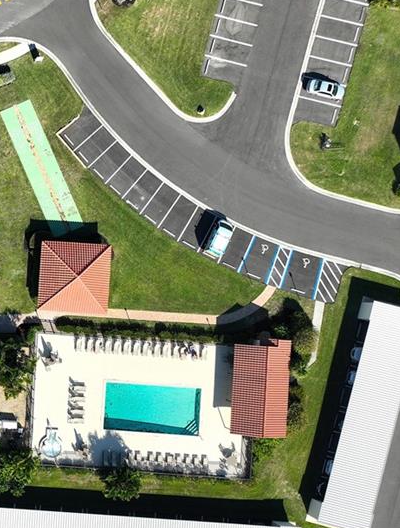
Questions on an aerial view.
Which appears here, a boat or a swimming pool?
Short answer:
swimming pool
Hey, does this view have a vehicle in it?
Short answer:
Yes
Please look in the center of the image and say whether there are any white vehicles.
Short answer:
Yes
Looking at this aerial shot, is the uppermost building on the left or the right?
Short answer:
left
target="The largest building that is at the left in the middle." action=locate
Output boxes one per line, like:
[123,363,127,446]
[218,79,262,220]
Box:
[36,240,112,315]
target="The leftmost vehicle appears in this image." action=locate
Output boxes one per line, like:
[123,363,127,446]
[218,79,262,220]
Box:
[205,219,235,258]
